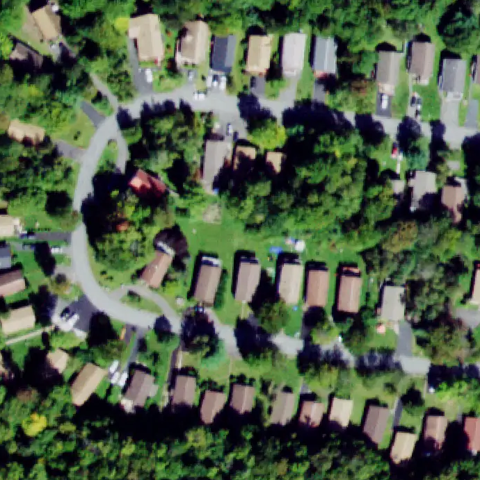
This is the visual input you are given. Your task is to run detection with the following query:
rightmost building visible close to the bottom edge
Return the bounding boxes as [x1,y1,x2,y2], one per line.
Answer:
[464,417,480,456]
